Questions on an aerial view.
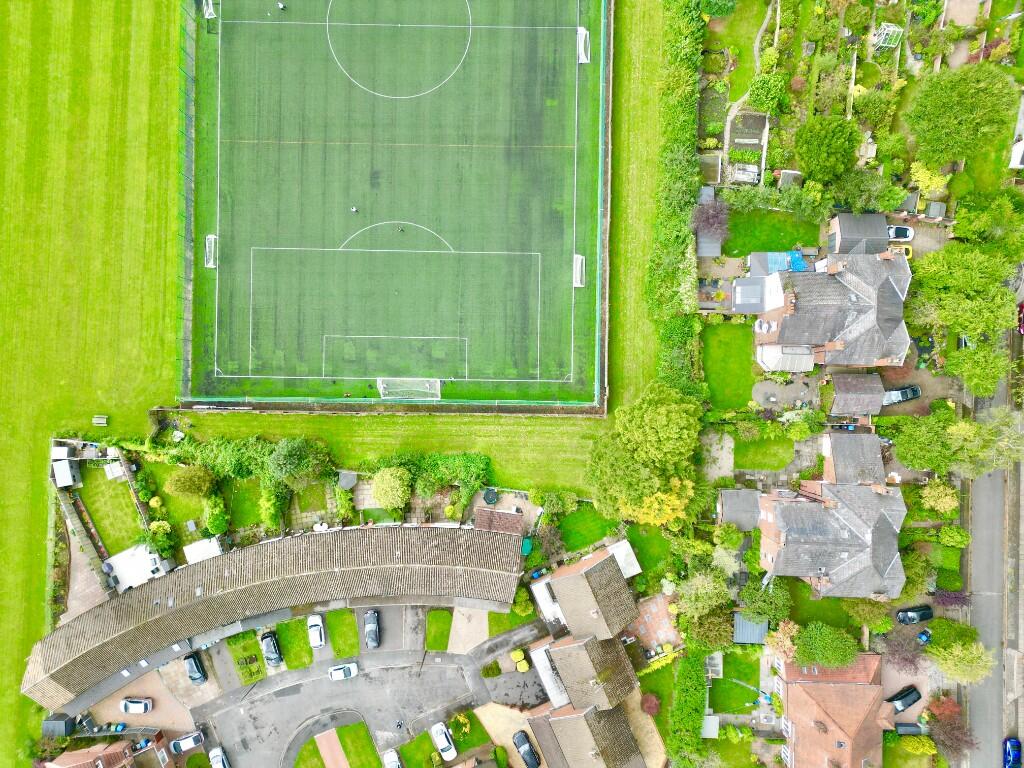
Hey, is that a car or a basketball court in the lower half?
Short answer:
car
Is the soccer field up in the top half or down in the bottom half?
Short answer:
top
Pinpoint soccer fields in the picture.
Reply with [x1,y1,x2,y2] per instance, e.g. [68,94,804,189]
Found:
[180,0,610,416]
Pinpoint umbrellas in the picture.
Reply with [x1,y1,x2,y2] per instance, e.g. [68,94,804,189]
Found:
[104,561,117,573]
[482,488,498,504]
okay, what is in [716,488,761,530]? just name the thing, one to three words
shed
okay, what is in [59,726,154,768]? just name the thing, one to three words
house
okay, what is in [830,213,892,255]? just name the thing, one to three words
building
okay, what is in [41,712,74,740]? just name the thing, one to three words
shed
